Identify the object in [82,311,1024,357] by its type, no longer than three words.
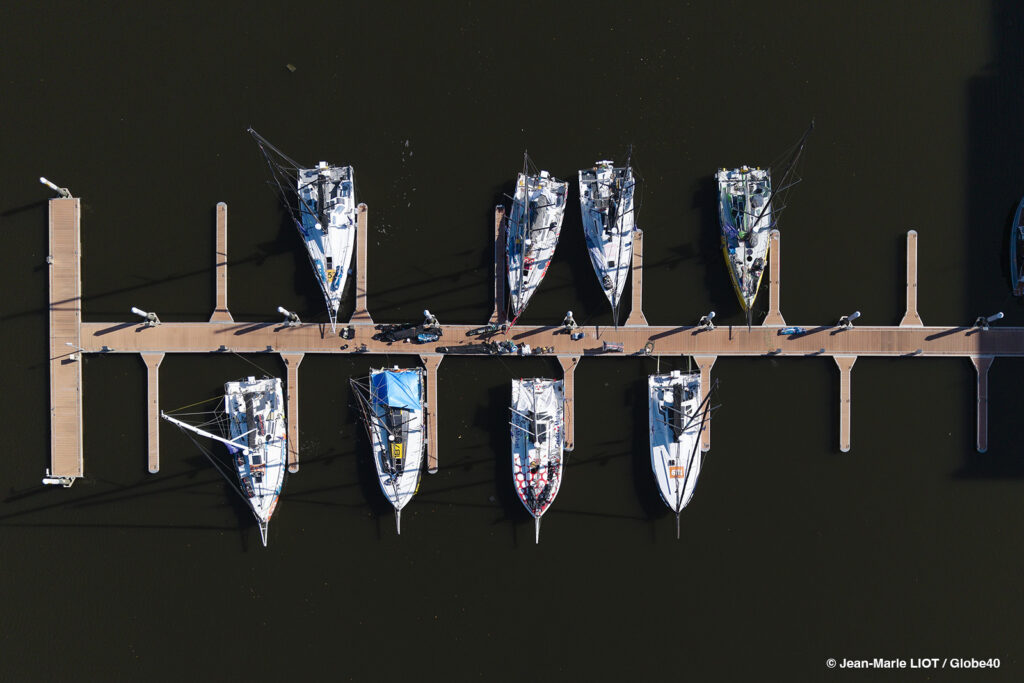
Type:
pier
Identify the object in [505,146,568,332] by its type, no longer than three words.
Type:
boat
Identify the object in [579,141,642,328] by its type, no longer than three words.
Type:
boat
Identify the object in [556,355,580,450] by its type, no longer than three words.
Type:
pier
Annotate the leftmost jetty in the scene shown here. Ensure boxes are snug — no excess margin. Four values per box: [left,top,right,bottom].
[42,189,85,487]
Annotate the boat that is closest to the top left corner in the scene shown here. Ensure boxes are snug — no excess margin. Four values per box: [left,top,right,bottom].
[249,123,356,333]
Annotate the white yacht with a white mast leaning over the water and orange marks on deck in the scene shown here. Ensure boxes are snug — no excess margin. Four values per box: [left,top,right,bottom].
[158,378,287,547]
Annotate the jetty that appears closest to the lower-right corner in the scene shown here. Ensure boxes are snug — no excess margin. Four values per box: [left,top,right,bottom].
[969,357,994,452]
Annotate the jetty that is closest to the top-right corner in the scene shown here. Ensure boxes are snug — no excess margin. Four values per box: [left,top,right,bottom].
[899,230,923,326]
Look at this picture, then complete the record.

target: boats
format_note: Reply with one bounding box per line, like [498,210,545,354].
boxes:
[648,370,718,538]
[579,141,642,328]
[350,363,424,534]
[158,378,287,547]
[717,117,815,329]
[249,123,356,333]
[510,377,564,544]
[505,146,568,332]
[1008,194,1024,297]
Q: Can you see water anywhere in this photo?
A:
Yes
